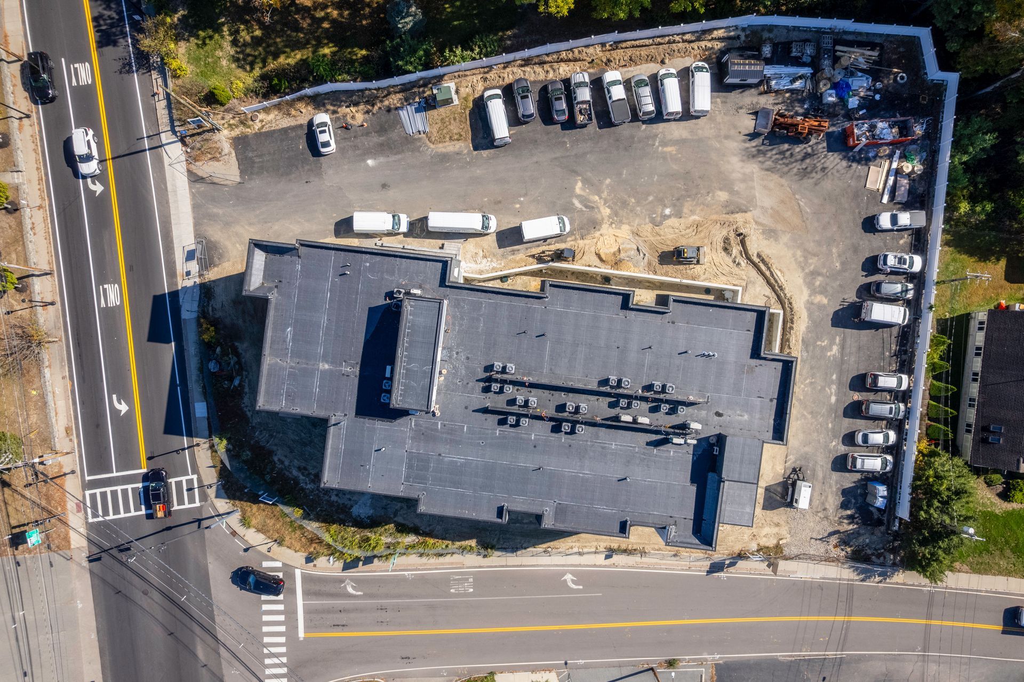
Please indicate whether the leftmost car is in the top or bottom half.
top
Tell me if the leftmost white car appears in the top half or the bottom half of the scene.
top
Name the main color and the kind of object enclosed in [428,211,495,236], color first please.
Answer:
white vehicle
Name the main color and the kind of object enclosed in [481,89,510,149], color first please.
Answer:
white van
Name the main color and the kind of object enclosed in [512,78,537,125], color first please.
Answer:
gray car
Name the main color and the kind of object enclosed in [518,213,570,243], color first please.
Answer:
white van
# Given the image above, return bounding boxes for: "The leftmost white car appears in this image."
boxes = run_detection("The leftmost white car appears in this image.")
[70,126,106,179]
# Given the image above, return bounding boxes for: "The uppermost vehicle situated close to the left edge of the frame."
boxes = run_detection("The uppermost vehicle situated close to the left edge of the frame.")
[27,52,60,103]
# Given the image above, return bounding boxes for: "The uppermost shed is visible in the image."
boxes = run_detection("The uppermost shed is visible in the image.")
[724,57,767,89]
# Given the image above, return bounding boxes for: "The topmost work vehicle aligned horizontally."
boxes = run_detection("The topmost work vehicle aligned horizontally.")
[755,109,835,144]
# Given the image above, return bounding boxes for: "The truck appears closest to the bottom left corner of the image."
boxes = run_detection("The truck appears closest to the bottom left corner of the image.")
[146,465,175,521]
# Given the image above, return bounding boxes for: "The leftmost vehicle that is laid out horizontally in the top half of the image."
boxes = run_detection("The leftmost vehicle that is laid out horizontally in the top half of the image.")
[352,212,409,236]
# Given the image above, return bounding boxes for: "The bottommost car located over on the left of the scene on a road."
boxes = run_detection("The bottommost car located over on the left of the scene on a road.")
[236,565,285,595]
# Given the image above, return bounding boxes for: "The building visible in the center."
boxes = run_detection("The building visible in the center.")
[243,212,798,552]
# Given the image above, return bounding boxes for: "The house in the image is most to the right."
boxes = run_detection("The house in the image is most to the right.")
[956,308,1024,472]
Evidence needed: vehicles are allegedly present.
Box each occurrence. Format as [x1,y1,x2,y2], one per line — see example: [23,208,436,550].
[535,247,575,262]
[855,301,908,326]
[352,212,409,236]
[569,72,594,129]
[27,52,60,103]
[867,279,913,301]
[518,213,570,243]
[146,465,175,521]
[512,78,537,125]
[654,68,685,123]
[628,74,656,122]
[236,565,285,595]
[852,428,895,450]
[687,63,712,119]
[310,111,338,158]
[844,452,892,474]
[1012,606,1024,626]
[672,246,705,265]
[862,370,908,393]
[481,89,510,149]
[871,208,926,232]
[601,71,632,128]
[874,251,920,274]
[857,399,905,421]
[546,79,569,125]
[428,211,495,236]
[70,126,106,179]
[755,109,835,144]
